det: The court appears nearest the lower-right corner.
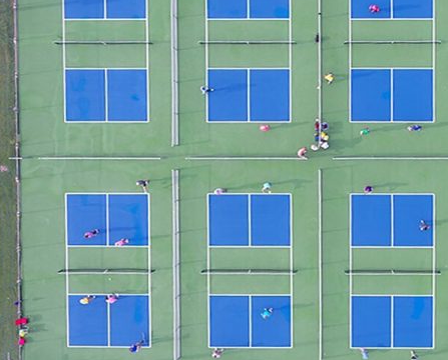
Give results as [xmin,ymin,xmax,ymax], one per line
[350,194,434,349]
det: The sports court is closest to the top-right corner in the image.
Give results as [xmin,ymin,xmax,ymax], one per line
[350,0,434,123]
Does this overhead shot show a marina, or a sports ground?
sports ground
